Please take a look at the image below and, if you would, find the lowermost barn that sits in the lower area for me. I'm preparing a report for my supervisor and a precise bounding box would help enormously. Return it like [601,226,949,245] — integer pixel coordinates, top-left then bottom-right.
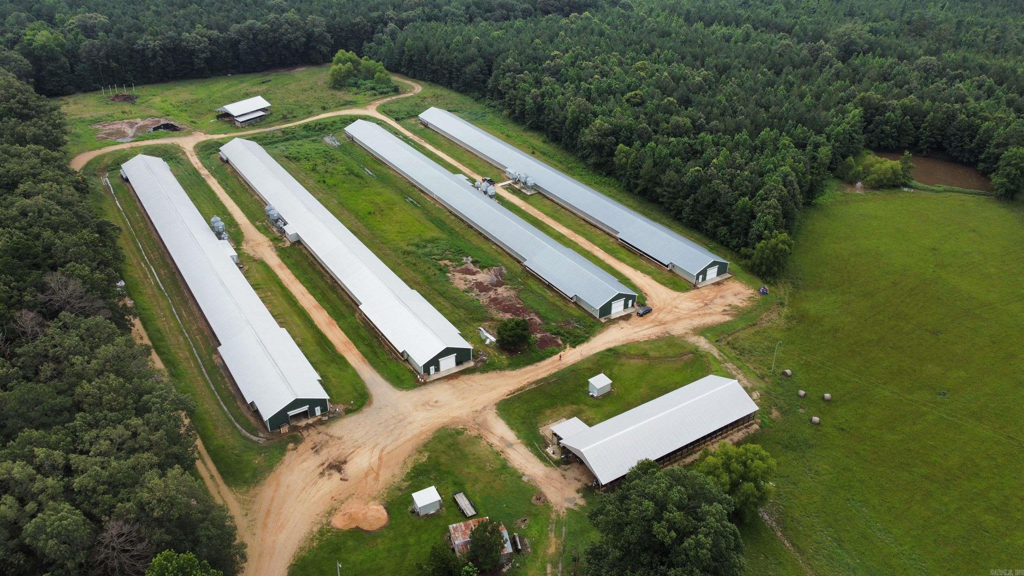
[450,517,507,568]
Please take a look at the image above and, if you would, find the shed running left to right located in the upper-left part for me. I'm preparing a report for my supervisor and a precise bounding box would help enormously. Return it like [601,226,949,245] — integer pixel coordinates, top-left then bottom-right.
[220,99,275,125]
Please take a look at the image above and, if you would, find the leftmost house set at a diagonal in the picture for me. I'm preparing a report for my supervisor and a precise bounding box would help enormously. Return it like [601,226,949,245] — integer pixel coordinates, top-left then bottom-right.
[121,154,330,430]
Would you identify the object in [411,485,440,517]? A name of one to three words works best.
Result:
shed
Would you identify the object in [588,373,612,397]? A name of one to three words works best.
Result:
shed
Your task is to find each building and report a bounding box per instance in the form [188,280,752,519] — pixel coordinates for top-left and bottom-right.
[450,517,507,568]
[121,154,330,430]
[588,373,612,397]
[344,119,638,323]
[550,375,759,495]
[220,99,275,125]
[411,485,440,517]
[220,138,475,381]
[419,107,732,288]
